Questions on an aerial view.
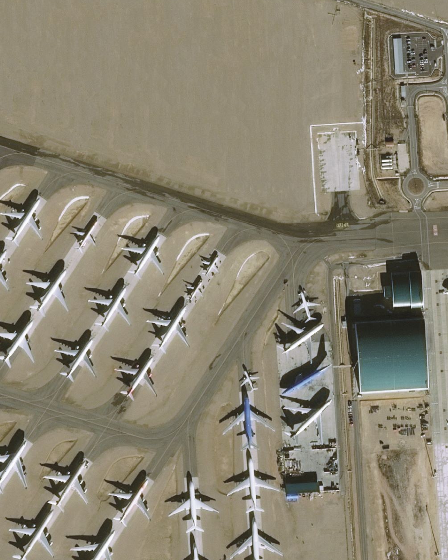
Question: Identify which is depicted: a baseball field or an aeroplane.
aeroplane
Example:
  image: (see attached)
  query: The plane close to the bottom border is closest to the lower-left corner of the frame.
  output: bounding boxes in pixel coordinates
[9,509,54,560]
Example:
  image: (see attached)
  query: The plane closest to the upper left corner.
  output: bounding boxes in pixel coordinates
[0,198,43,247]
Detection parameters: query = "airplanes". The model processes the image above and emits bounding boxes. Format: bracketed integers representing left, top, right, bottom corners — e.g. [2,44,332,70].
[186,282,203,302]
[231,519,283,560]
[47,462,86,510]
[9,509,54,560]
[240,371,258,392]
[74,531,115,560]
[226,458,279,514]
[122,237,164,280]
[202,256,220,278]
[0,442,28,494]
[147,309,189,354]
[54,340,96,383]
[73,221,98,251]
[223,395,275,452]
[0,198,43,247]
[89,288,131,331]
[276,322,324,364]
[169,479,218,533]
[108,479,152,527]
[282,363,333,396]
[285,400,333,443]
[27,270,69,317]
[293,292,320,322]
[115,359,156,401]
[0,321,35,366]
